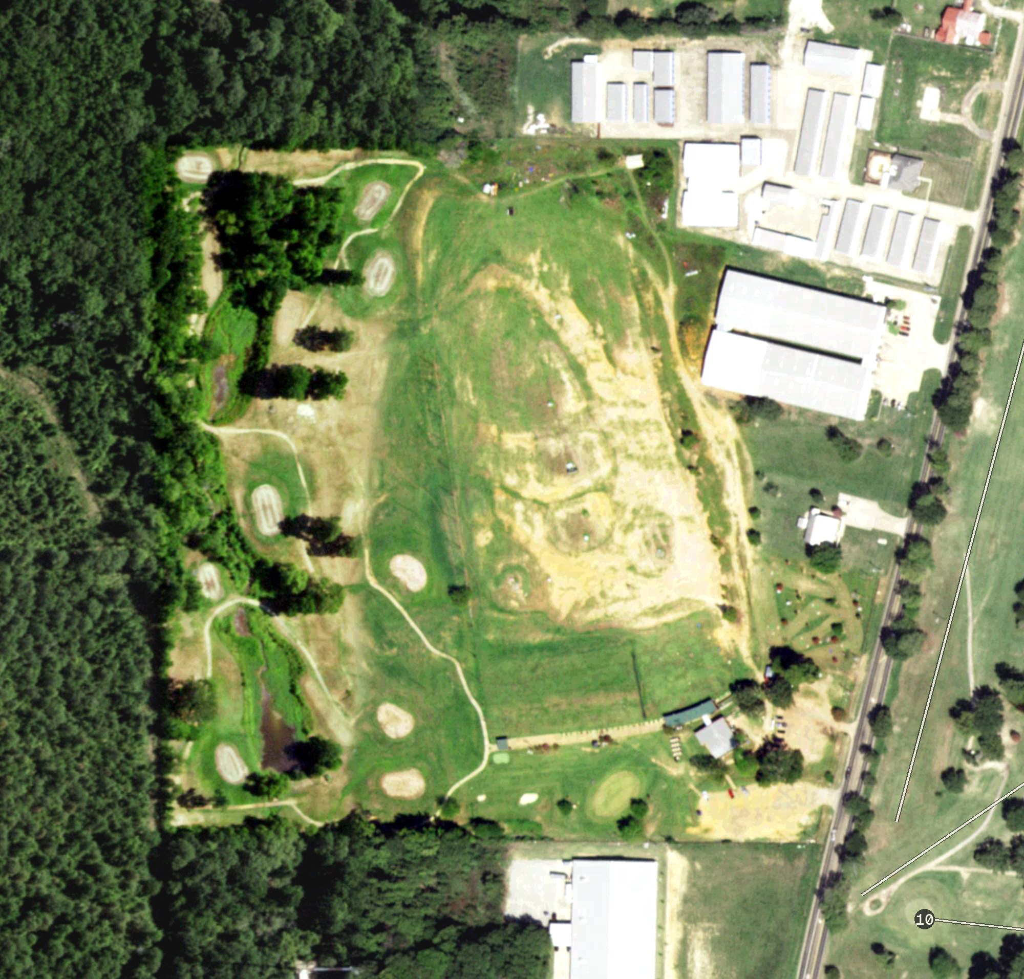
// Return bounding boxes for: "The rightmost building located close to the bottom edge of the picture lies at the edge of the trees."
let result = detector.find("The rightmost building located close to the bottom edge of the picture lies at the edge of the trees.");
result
[571,861,659,979]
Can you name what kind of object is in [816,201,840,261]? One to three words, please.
building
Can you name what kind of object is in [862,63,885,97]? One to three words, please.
shed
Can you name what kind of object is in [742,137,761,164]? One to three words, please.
shed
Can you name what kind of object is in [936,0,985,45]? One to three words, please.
house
